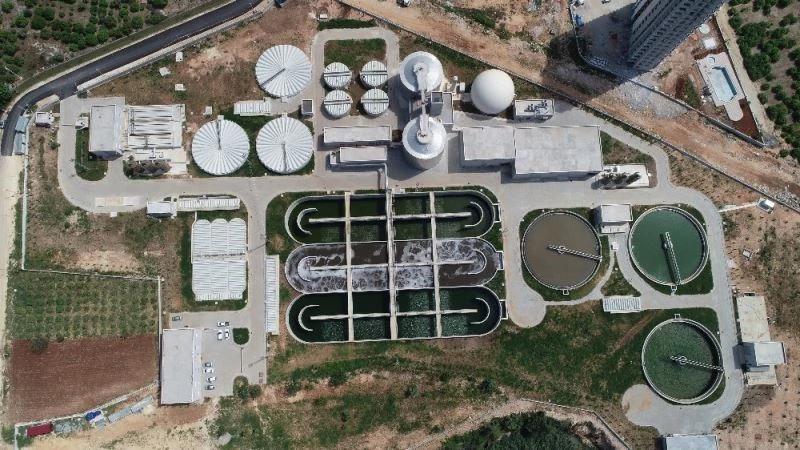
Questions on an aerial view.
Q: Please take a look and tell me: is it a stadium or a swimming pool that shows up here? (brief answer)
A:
swimming pool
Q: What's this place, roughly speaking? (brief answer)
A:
industrial area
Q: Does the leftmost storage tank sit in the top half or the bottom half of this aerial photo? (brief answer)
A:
top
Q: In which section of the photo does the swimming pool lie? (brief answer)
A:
top right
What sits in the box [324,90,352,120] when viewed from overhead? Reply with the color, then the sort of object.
white storage tank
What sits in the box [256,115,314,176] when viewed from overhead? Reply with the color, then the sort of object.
white storage tank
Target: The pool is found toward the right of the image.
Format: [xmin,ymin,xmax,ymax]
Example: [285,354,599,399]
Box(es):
[697,52,744,121]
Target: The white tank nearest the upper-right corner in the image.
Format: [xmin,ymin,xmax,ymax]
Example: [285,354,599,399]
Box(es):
[472,70,516,114]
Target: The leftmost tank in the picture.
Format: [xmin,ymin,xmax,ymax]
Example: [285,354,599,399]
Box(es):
[192,116,252,177]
